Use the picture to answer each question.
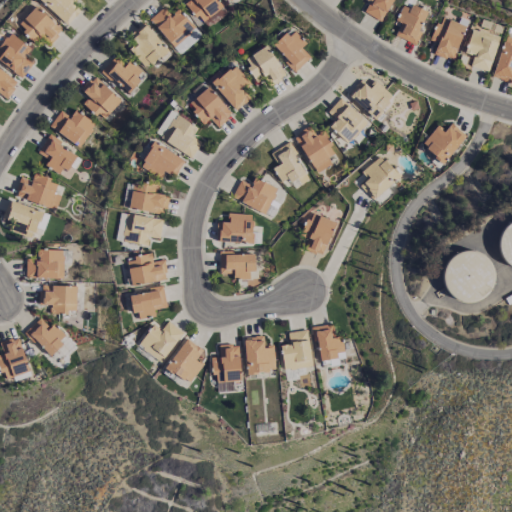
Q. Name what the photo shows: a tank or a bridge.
tank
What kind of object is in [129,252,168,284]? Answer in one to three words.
house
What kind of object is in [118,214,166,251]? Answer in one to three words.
house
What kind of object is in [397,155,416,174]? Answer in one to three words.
swimming pool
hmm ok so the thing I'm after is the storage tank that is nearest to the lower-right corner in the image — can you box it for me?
[444,251,497,303]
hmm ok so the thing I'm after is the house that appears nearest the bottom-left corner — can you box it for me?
[0,337,33,382]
